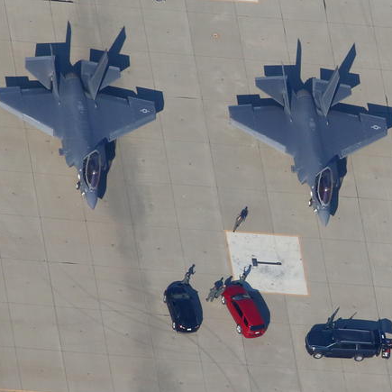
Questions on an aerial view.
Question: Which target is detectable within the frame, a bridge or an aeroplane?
aeroplane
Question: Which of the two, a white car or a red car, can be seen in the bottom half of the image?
red car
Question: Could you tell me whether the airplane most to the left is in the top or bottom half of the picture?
top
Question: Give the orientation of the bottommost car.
from left to right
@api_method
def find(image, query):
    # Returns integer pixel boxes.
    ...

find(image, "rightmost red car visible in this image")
[221,288,264,340]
